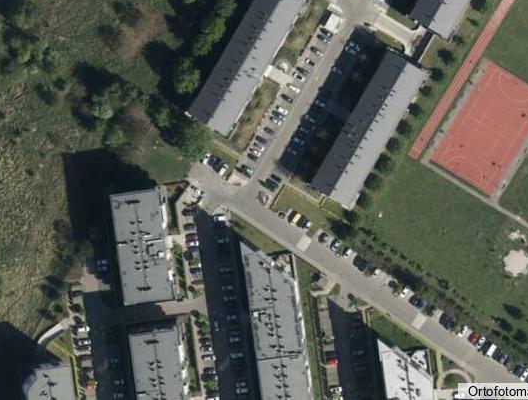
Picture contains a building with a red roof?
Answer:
No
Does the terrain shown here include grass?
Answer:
Yes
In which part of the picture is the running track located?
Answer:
top right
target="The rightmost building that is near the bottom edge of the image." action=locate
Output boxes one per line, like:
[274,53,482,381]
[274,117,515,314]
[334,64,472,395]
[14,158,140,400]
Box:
[377,334,433,400]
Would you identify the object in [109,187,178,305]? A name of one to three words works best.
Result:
building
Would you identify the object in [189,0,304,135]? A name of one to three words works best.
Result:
building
